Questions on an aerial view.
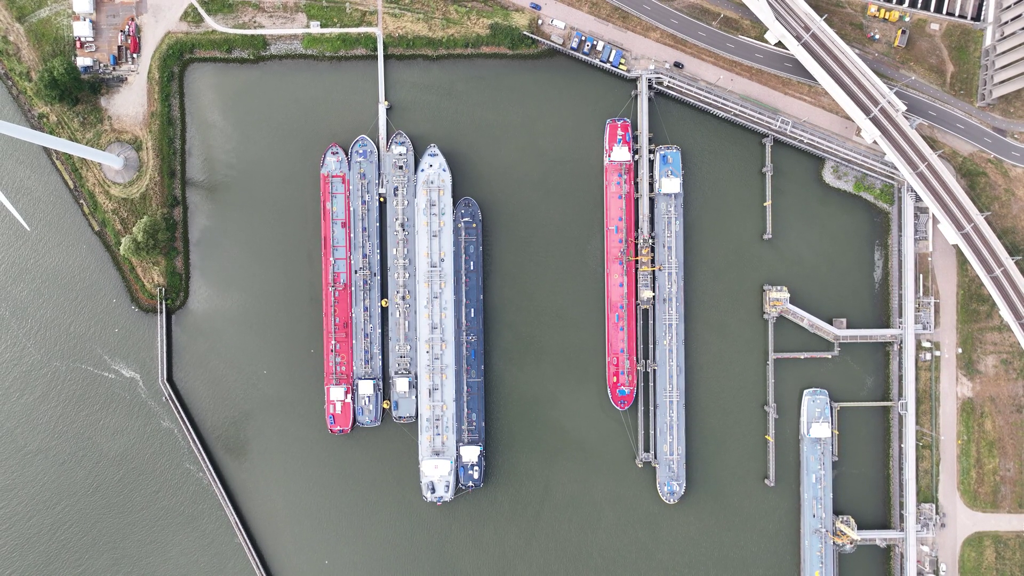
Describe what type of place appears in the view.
port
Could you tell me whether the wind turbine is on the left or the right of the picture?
left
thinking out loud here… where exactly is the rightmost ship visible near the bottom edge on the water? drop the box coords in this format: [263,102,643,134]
[797,387,833,576]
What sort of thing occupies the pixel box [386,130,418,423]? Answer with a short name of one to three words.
ship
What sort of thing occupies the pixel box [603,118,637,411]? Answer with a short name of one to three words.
ship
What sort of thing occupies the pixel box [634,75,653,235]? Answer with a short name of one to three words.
pier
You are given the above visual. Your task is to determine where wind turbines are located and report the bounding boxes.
[0,118,139,229]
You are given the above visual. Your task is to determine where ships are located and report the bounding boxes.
[348,134,383,427]
[653,144,686,505]
[453,197,485,493]
[414,143,457,504]
[603,118,637,411]
[797,387,833,576]
[386,130,418,423]
[320,142,354,435]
